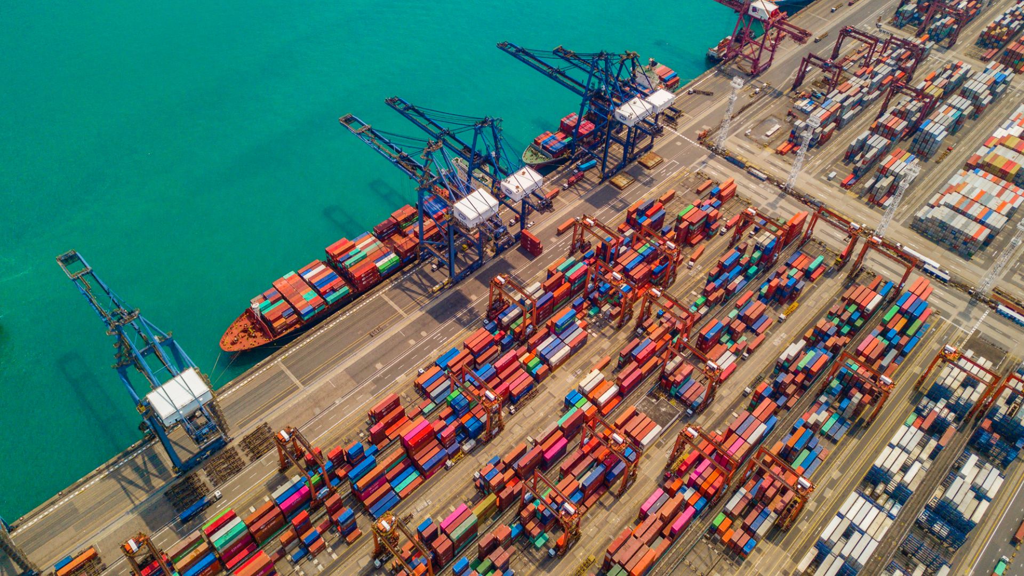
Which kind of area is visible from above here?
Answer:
port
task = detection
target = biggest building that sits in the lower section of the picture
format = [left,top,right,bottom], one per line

[634,395,681,434]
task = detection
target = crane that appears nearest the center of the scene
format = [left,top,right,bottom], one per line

[487,273,540,343]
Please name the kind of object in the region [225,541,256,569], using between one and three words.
shipping container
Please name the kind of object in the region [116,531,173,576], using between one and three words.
crane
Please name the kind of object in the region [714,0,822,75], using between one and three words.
container crane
